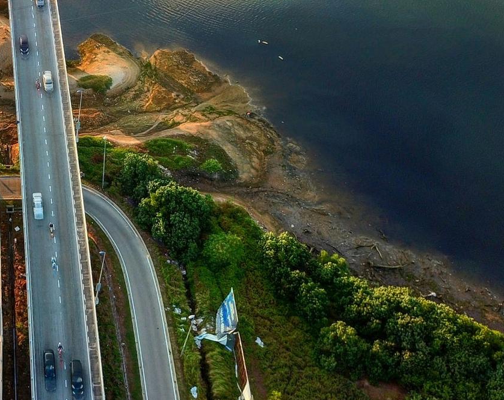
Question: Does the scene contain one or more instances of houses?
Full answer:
No, there is no house in the image.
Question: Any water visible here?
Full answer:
Yes, there's water in this view.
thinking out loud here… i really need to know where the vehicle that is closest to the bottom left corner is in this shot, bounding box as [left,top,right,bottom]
[42,352,59,384]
